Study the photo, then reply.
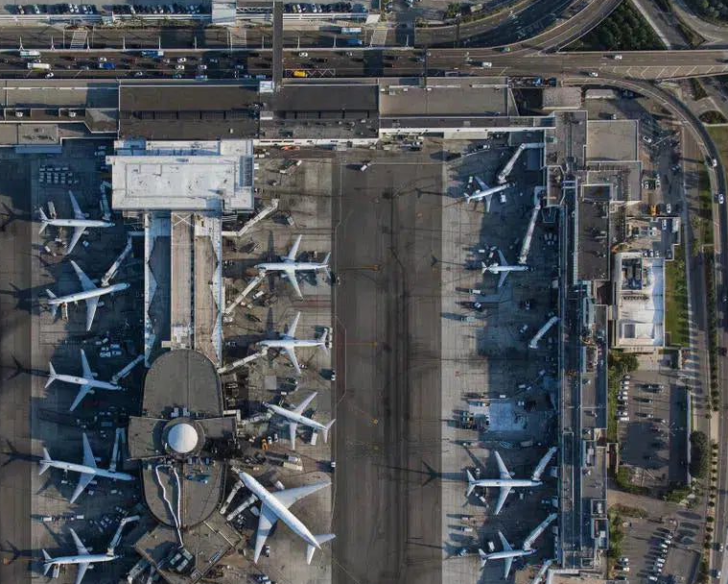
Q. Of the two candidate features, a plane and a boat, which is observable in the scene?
plane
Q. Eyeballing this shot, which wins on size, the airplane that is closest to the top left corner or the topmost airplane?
the airplane that is closest to the top left corner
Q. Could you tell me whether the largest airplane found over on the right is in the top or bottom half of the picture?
bottom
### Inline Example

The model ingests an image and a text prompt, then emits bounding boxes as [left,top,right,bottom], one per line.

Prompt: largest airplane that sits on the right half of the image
[468,451,543,515]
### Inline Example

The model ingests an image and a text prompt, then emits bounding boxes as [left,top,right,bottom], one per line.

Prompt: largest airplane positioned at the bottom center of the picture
[239,473,337,565]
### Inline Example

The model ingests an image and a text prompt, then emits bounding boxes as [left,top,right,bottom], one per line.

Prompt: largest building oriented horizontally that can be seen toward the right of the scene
[380,78,544,147]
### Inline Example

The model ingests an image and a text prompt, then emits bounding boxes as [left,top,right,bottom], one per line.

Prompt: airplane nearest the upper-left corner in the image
[40,191,115,254]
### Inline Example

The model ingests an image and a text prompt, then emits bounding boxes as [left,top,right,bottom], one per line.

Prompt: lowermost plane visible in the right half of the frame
[480,529,536,581]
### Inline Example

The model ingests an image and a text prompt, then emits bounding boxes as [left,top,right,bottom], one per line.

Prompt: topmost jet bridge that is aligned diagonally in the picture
[494,142,542,190]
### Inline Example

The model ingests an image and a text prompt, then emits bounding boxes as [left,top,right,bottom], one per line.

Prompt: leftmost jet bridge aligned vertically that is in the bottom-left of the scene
[108,426,128,478]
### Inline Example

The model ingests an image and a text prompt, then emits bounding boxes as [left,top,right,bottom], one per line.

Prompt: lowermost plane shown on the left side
[43,529,119,584]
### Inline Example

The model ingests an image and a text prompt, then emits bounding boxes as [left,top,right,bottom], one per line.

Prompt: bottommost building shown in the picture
[610,251,665,352]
